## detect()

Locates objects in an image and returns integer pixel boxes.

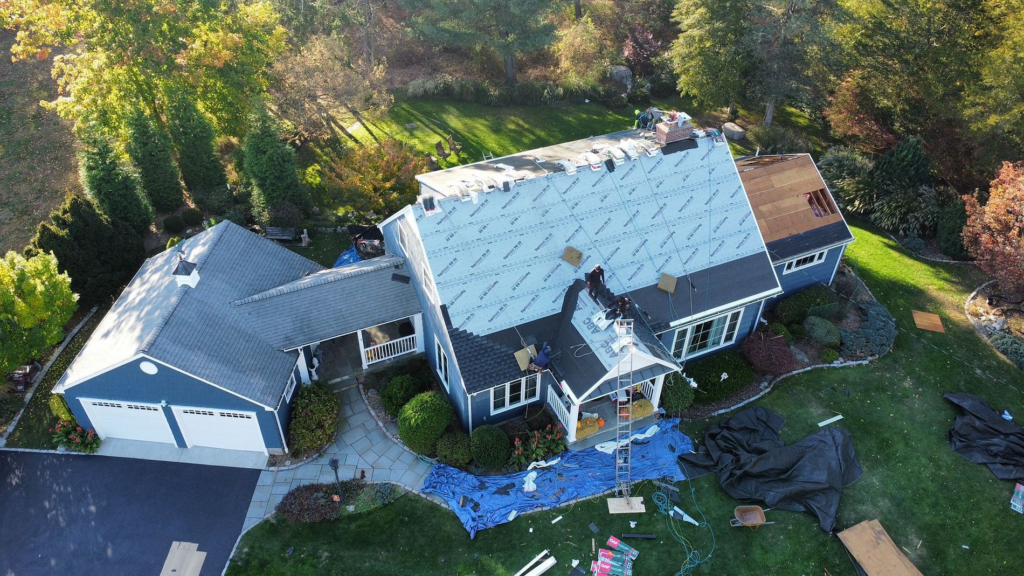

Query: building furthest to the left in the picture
[49,220,331,460]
